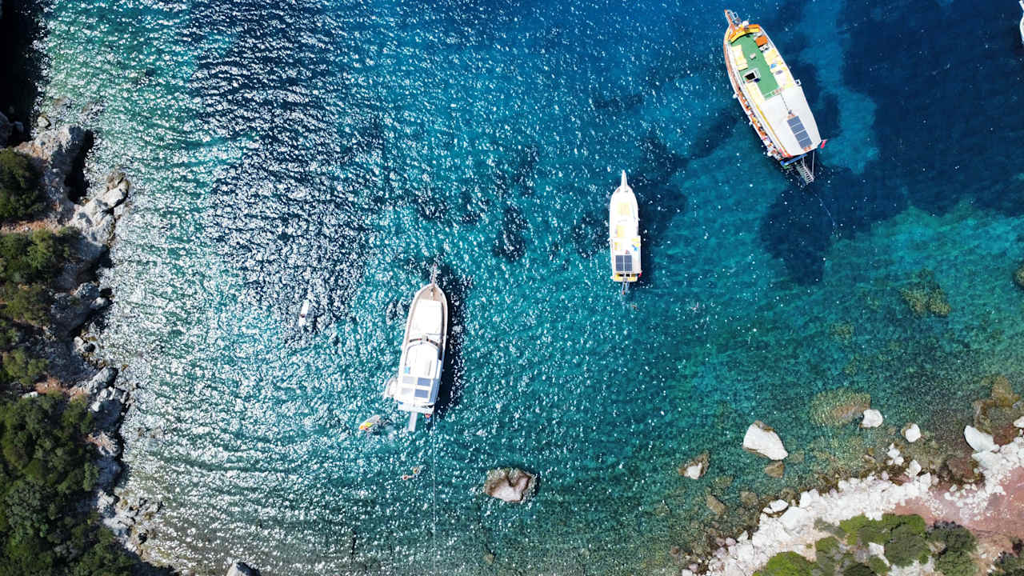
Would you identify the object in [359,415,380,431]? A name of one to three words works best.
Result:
boat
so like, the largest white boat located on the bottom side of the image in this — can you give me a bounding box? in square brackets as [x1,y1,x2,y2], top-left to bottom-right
[395,265,448,436]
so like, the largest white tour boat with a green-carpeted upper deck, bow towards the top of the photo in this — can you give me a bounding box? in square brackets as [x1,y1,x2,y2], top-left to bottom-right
[723,6,830,184]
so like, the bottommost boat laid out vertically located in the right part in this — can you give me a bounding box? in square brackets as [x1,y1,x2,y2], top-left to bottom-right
[607,170,642,294]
